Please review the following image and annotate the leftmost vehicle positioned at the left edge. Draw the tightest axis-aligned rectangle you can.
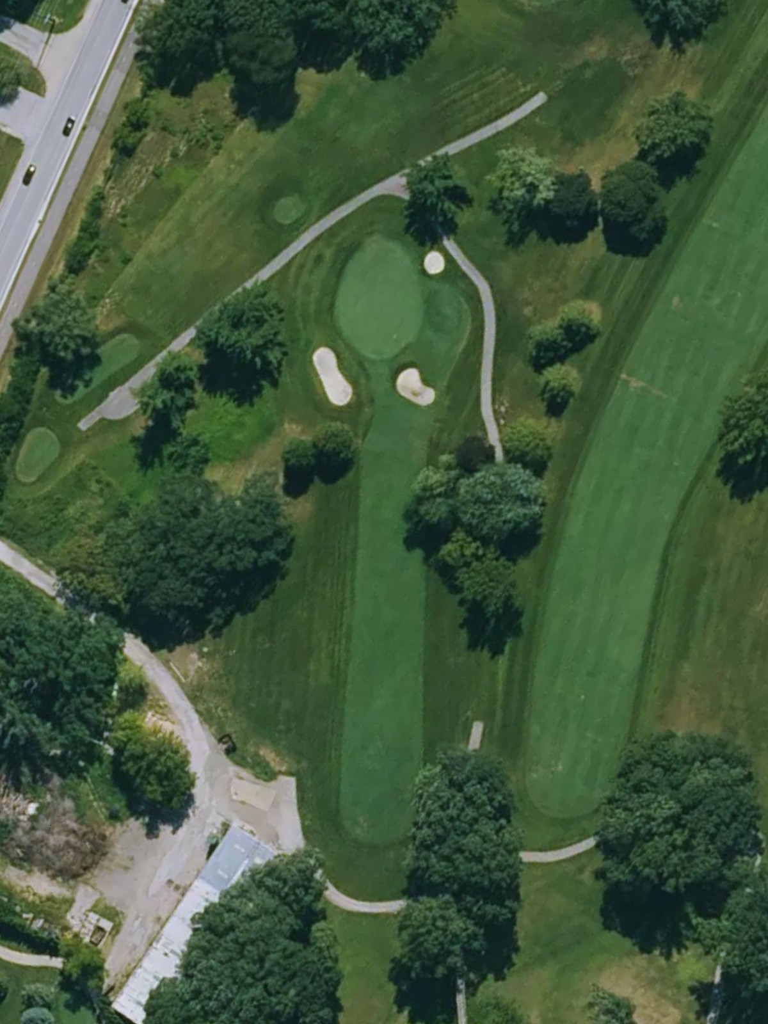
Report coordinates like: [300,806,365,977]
[22,163,36,185]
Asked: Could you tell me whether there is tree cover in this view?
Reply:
Yes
